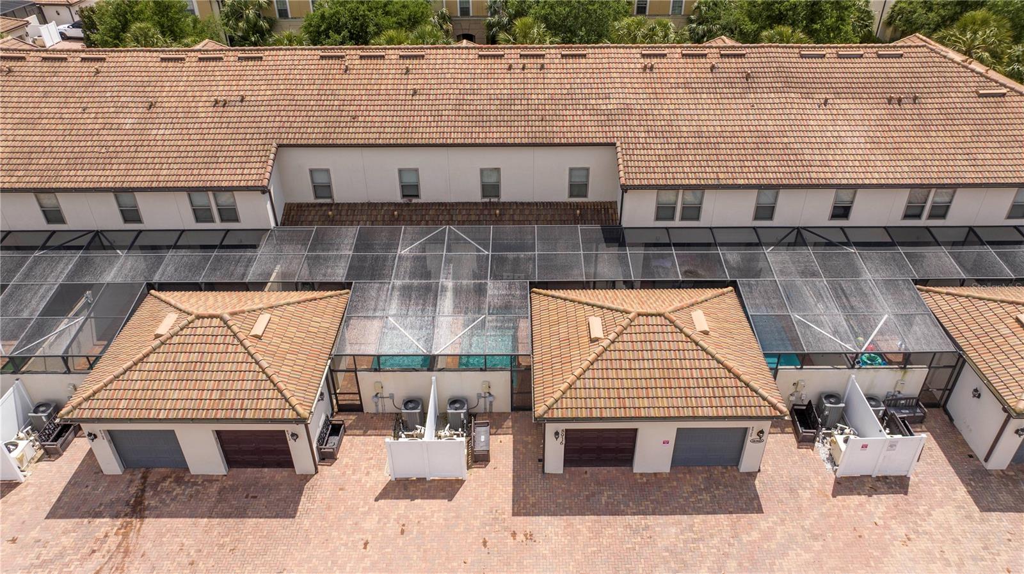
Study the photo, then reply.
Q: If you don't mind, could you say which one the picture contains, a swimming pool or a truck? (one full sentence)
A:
It is a swimming pool that can be seen here.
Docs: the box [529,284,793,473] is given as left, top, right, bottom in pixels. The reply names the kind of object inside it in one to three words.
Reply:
building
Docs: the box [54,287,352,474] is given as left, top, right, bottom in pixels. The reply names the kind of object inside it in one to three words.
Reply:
building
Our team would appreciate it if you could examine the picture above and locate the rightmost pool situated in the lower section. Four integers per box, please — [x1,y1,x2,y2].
[765,354,810,376]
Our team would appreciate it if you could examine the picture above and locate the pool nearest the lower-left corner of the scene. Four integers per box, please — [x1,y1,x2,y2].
[365,320,435,371]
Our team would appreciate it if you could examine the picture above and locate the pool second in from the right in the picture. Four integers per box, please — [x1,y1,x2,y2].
[452,317,522,394]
